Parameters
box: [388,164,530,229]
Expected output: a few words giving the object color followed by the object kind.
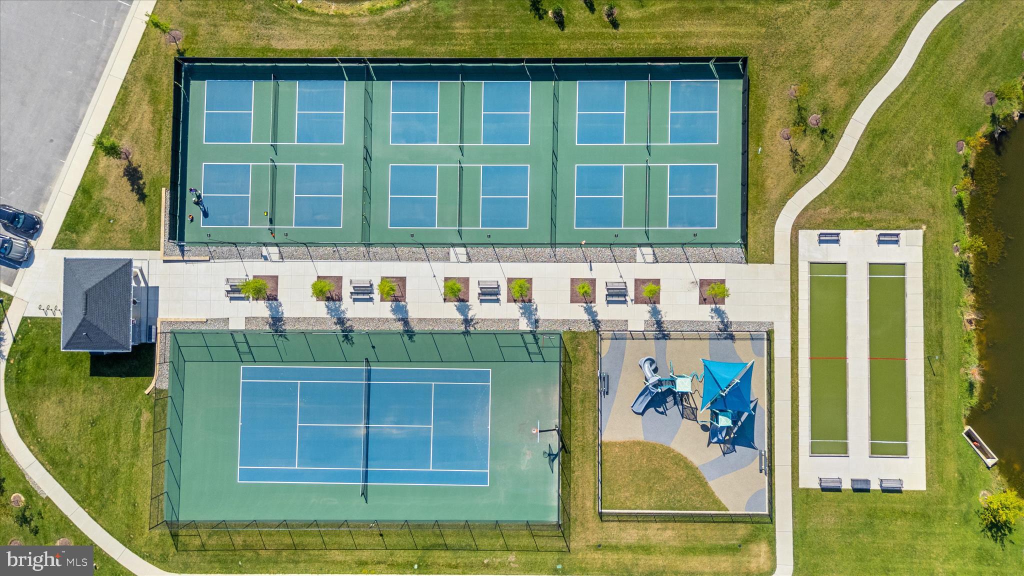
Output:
blue sports court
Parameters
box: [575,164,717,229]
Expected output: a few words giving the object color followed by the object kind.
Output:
blue sports court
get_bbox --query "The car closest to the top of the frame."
[0,201,43,234]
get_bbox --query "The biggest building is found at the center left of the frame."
[60,257,146,352]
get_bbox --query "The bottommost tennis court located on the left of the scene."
[238,366,491,486]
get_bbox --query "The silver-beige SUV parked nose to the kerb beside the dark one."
[0,232,31,261]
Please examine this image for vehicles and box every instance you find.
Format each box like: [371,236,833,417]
[0,232,31,261]
[0,201,43,234]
